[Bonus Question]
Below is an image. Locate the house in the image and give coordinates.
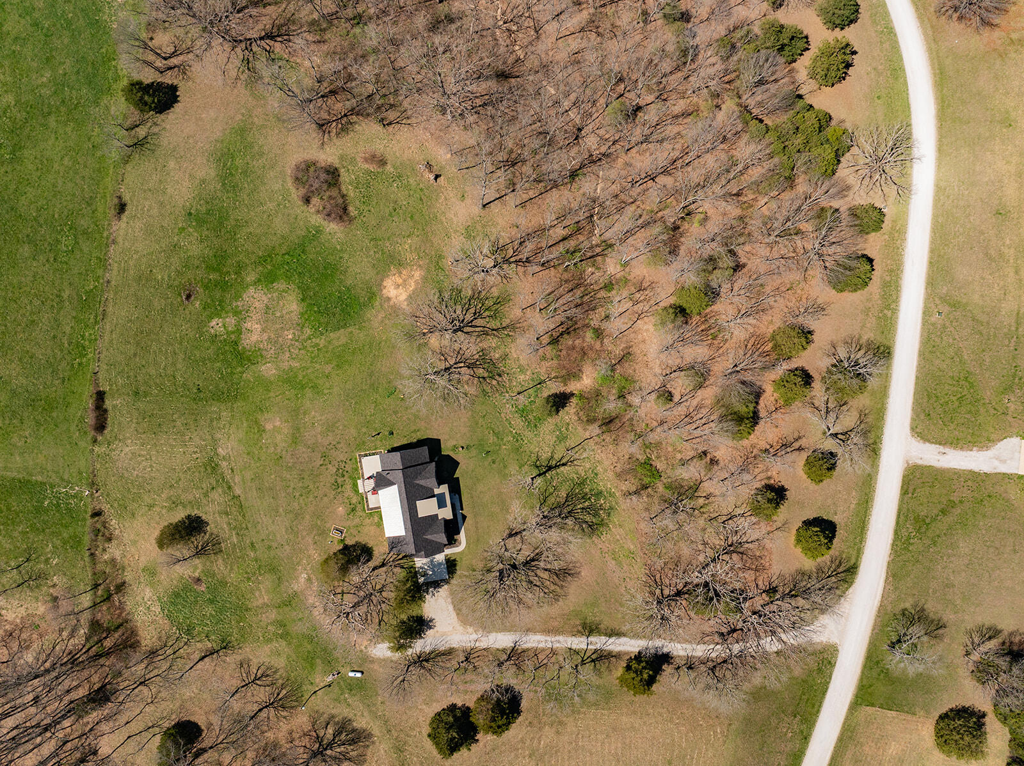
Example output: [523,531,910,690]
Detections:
[375,447,453,558]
